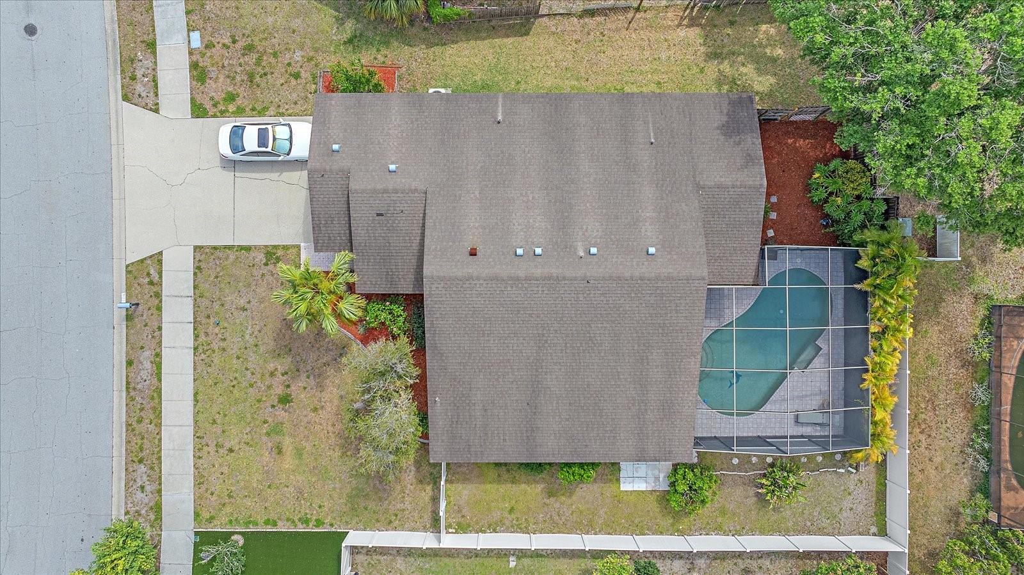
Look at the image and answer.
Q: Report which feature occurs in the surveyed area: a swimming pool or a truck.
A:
swimming pool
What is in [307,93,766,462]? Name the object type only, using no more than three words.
house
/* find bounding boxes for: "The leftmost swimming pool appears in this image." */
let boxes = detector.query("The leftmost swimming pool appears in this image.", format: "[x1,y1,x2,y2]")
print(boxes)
[699,257,836,423]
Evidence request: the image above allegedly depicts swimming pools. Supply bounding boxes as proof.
[699,257,836,423]
[1009,359,1024,486]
